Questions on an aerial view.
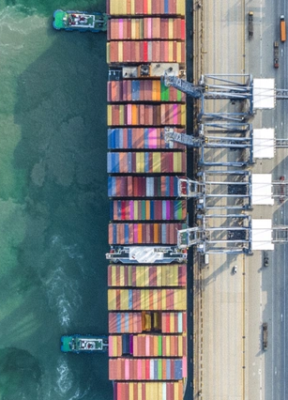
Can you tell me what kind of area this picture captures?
port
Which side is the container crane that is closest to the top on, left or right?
right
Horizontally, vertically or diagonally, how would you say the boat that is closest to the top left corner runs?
horizontally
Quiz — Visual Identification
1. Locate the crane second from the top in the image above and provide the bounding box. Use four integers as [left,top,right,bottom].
[158,124,288,169]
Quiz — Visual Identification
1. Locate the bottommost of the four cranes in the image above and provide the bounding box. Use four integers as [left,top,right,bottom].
[170,210,288,254]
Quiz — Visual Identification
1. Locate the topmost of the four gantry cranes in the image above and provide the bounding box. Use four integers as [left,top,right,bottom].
[158,70,288,128]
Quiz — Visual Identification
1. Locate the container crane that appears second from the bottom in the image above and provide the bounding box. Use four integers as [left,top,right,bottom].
[172,169,288,214]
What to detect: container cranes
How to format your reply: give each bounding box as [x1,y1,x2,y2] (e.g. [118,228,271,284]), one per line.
[158,124,288,169]
[158,70,288,128]
[170,210,288,254]
[172,169,288,214]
